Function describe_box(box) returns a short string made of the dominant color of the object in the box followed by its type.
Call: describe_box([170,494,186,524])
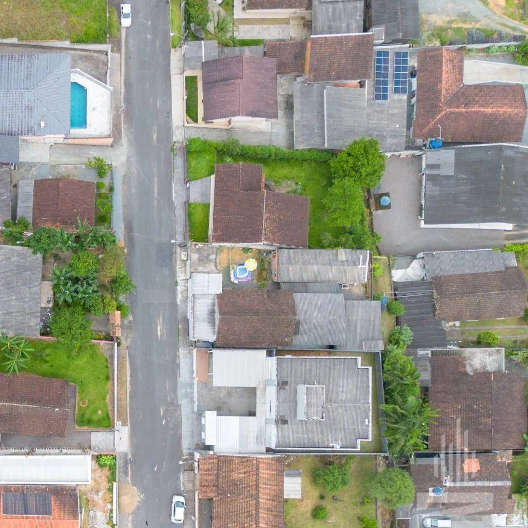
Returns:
white car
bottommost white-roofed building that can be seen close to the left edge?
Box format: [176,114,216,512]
[0,453,91,484]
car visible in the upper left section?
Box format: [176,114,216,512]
[120,2,133,28]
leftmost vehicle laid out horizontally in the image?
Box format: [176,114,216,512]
[422,515,452,528]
